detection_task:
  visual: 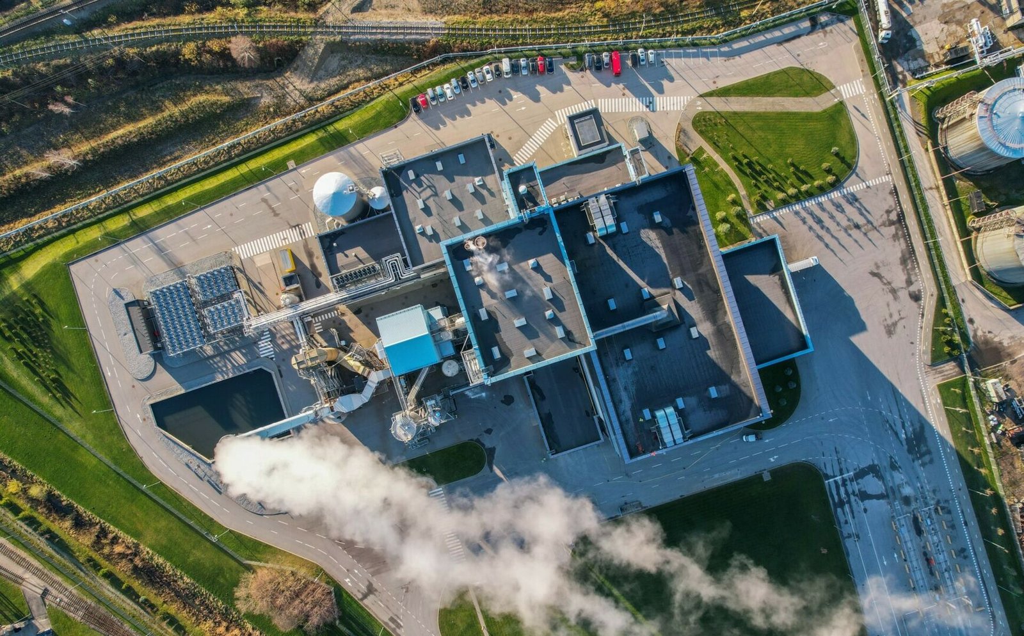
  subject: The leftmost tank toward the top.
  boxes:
[312,172,370,227]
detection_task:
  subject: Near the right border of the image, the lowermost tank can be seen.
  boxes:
[965,205,1024,292]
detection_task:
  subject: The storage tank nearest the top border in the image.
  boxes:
[932,77,1024,178]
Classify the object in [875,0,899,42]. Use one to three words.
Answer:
truck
